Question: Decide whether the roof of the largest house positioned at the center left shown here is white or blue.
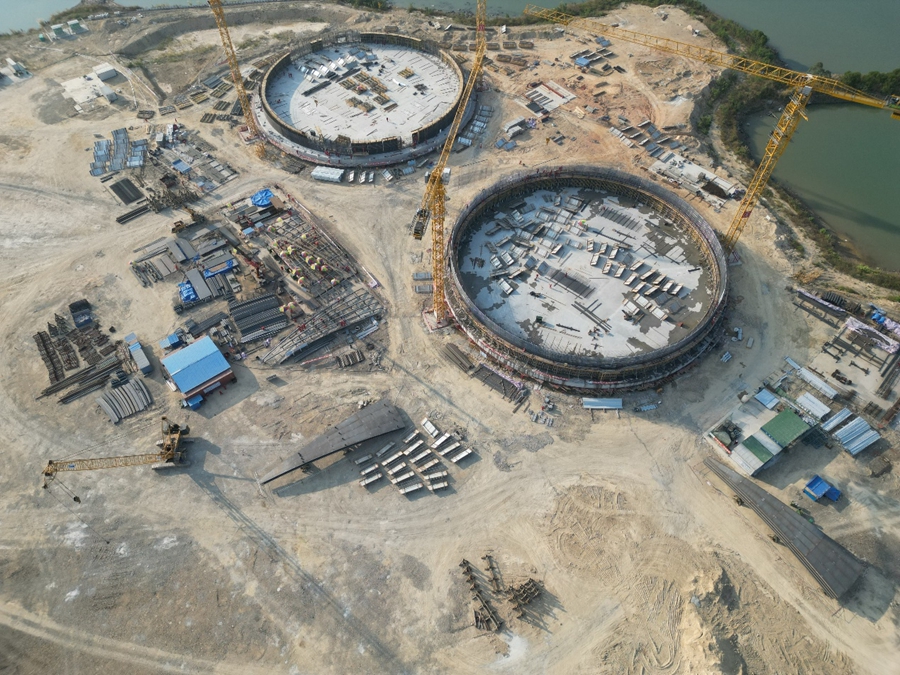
blue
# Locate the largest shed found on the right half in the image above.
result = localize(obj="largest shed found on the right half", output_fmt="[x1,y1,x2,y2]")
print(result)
[726,410,811,480]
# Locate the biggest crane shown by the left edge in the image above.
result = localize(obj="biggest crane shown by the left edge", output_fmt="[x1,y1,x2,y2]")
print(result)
[43,417,195,532]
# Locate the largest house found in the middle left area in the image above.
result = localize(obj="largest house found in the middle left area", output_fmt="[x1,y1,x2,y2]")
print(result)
[162,337,233,398]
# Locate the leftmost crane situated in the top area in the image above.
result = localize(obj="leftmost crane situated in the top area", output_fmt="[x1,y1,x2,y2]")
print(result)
[166,201,204,235]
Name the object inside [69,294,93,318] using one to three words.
shed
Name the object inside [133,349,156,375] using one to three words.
shed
